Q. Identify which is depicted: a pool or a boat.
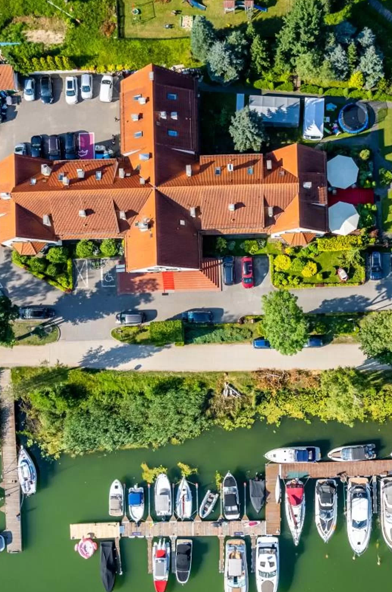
boat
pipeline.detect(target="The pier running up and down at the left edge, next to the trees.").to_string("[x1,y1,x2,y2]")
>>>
[0,370,22,553]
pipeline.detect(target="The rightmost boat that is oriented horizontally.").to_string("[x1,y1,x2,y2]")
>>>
[328,443,380,463]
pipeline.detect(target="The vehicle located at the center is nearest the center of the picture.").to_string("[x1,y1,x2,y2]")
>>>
[181,308,214,324]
